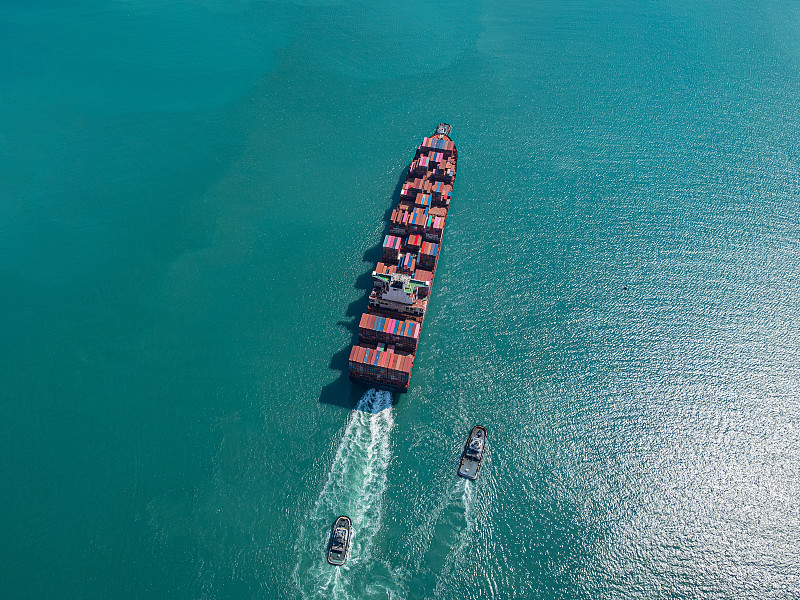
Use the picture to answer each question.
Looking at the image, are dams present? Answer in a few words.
No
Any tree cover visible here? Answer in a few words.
No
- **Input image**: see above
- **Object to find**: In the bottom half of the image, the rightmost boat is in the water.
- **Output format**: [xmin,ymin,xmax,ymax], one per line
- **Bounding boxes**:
[459,425,488,479]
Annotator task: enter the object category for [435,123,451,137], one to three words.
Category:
boat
